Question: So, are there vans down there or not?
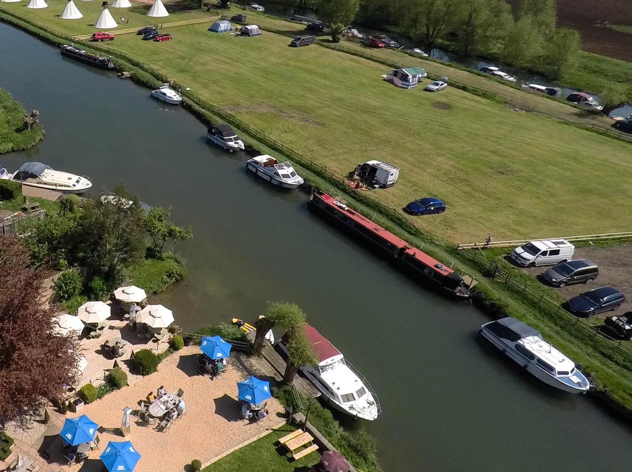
Yes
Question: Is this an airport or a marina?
marina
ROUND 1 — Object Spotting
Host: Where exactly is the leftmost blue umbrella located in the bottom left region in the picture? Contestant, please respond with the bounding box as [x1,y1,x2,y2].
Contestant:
[59,416,98,450]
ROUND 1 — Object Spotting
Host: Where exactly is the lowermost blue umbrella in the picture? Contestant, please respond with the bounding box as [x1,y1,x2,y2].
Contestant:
[98,441,142,472]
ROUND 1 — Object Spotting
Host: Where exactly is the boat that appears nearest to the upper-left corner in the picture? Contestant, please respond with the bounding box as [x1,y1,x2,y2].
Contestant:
[60,46,112,63]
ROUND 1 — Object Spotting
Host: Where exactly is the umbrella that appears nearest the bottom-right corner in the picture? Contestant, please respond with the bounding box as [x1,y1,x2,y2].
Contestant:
[312,448,353,472]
